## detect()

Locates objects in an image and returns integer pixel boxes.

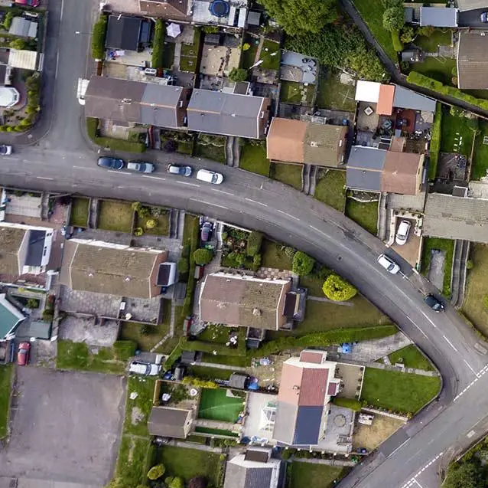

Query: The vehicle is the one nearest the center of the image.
[199,218,213,244]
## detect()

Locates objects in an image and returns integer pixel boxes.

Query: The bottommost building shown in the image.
[224,443,281,488]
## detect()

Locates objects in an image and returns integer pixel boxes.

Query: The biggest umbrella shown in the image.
[166,24,182,37]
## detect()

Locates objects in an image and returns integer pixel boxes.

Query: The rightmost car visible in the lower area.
[421,289,446,313]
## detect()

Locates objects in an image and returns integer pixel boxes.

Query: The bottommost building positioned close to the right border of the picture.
[422,185,488,243]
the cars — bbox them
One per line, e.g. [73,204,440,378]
[96,155,126,170]
[421,289,446,313]
[0,142,16,155]
[199,218,213,244]
[127,159,154,173]
[167,163,194,177]
[194,169,225,184]
[376,251,402,274]
[13,0,41,7]
[478,10,488,23]
[16,340,31,366]
[395,219,413,245]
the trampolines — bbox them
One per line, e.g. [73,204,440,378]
[206,0,228,17]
